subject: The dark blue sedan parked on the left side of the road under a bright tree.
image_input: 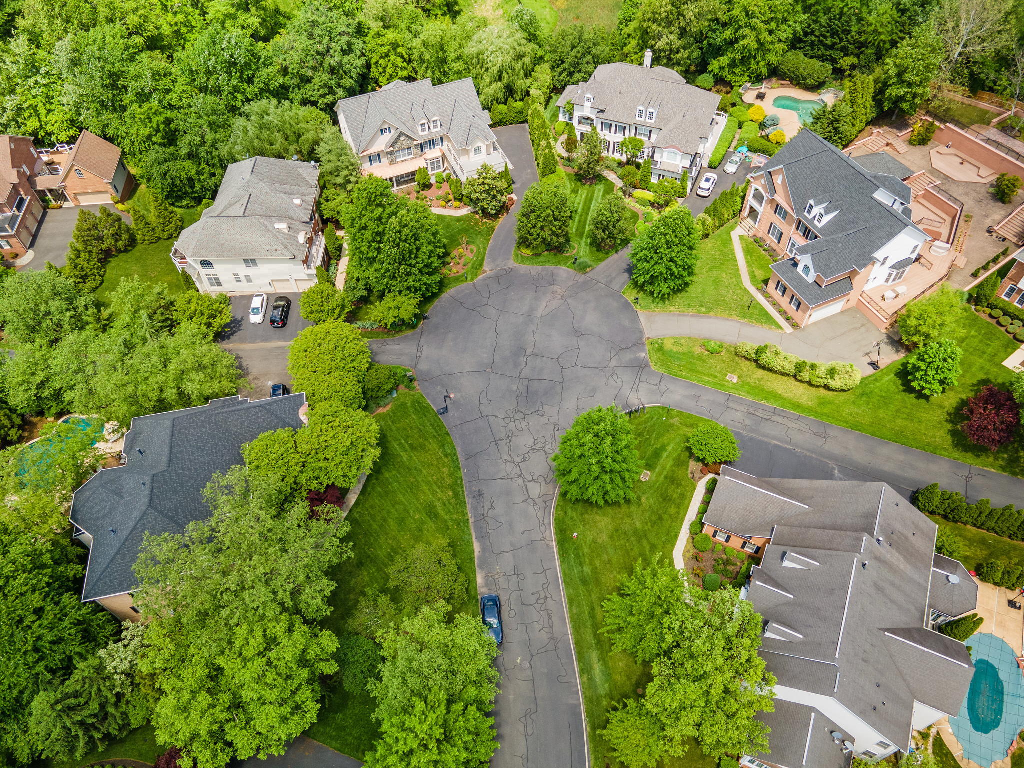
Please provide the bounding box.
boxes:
[481,593,505,644]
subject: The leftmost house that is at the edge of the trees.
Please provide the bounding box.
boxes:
[0,135,75,253]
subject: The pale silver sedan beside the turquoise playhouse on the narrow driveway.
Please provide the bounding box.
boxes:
[725,151,746,171]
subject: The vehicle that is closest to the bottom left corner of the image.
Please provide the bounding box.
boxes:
[266,378,286,398]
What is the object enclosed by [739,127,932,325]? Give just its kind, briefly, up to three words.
house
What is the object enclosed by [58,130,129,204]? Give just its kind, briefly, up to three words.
building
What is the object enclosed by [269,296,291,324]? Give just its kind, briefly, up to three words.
car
